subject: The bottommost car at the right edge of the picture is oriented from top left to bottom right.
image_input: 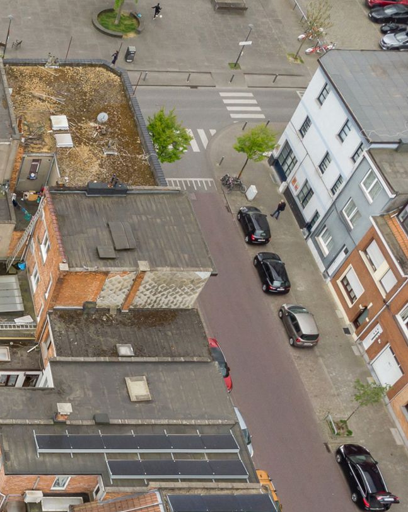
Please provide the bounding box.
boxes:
[334,443,407,512]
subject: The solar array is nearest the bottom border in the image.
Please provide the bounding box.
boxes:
[164,491,275,512]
